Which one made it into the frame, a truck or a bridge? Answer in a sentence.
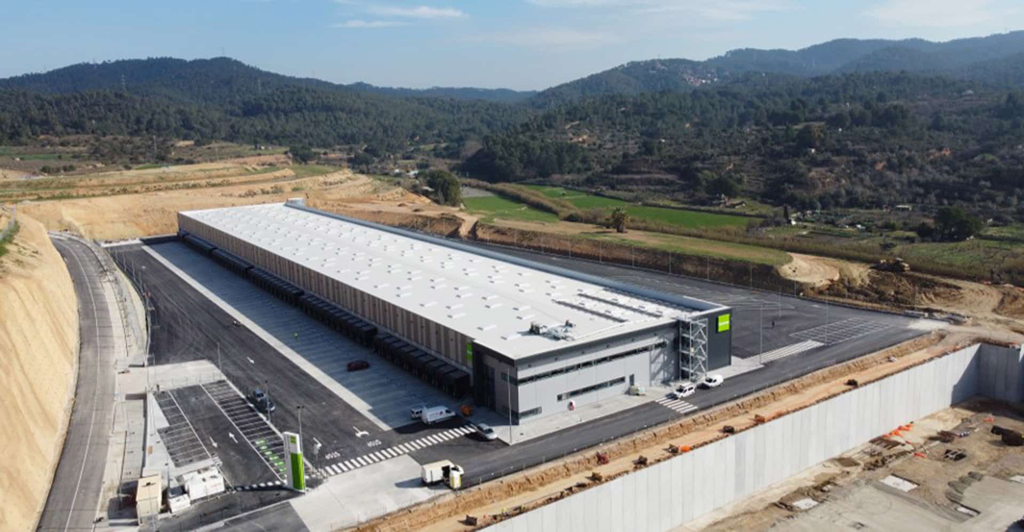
This aerial view contains a truck.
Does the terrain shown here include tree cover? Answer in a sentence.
Yes, tree cover shows up in the scene.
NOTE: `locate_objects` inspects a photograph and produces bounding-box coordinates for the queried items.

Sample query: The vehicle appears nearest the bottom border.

[417,446,468,481]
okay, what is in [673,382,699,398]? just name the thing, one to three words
vehicle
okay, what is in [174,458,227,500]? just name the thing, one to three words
building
